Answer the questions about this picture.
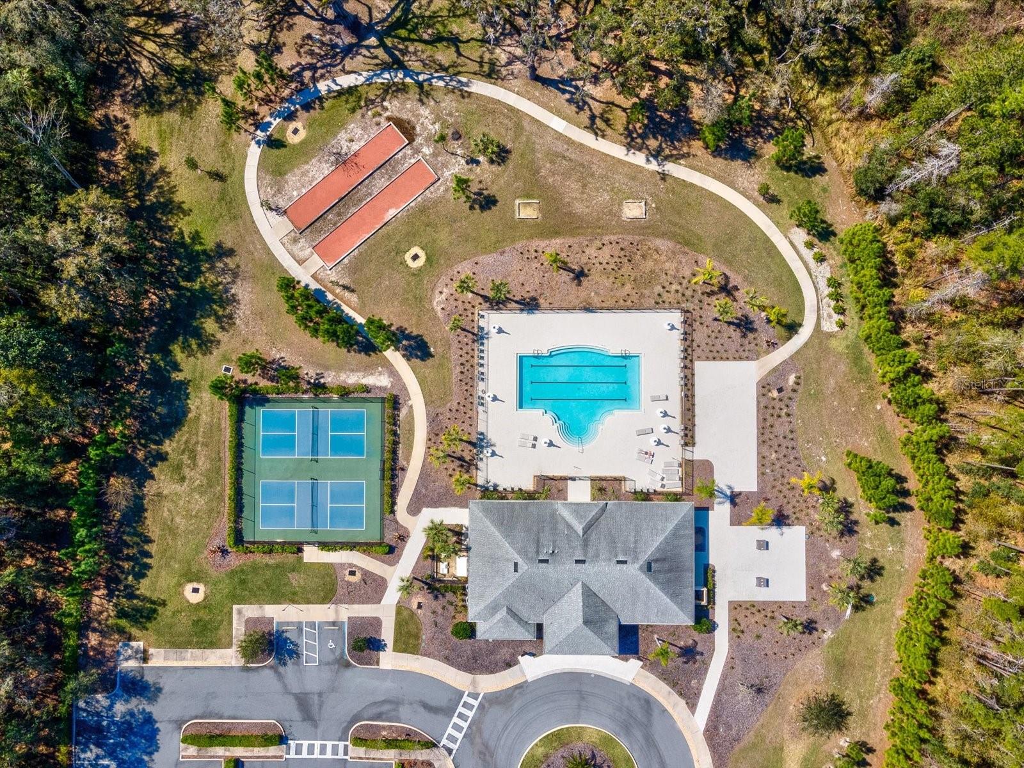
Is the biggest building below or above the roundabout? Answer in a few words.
above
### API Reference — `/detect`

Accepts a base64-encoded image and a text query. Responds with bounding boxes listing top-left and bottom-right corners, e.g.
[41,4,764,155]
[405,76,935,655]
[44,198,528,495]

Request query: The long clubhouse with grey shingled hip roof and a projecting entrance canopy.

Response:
[468,500,695,656]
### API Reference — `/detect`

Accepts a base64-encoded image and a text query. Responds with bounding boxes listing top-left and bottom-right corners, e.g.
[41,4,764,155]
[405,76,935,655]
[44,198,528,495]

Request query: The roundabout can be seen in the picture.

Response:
[464,671,692,768]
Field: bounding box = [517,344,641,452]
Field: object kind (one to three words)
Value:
swimming pool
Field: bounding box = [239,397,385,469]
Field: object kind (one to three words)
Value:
sports court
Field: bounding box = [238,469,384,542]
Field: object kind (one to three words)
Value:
sports court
